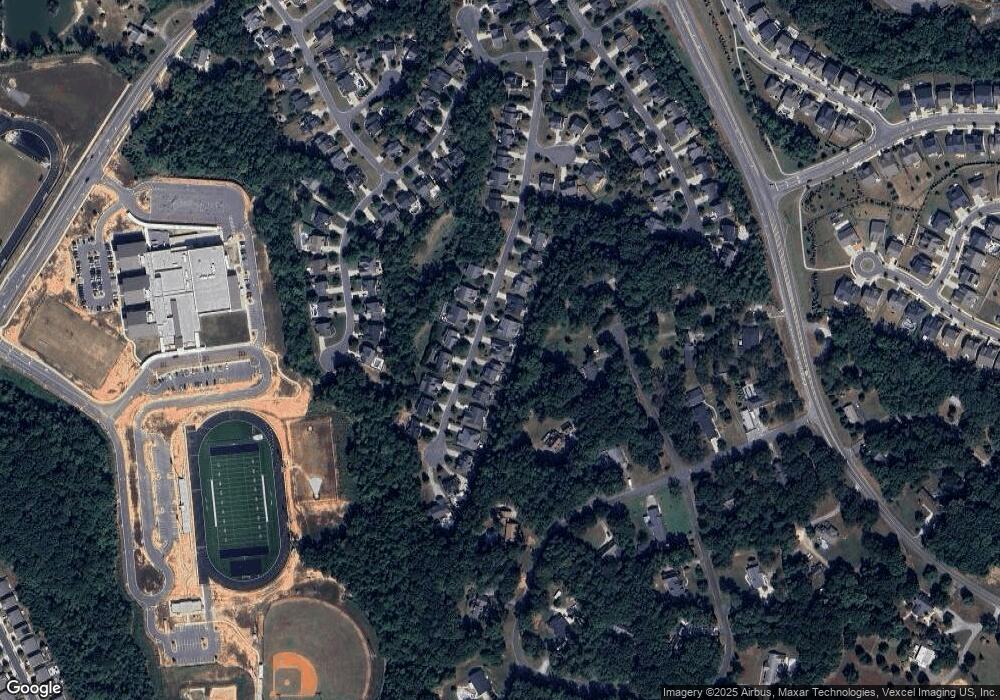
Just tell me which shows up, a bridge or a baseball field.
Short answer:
baseball field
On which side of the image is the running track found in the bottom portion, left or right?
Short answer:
left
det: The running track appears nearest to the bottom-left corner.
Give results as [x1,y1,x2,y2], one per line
[187,408,291,592]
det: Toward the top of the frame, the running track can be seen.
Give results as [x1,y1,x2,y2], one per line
[0,118,62,277]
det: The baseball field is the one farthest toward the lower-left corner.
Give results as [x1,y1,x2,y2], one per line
[156,665,256,700]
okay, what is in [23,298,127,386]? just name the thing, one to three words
sports field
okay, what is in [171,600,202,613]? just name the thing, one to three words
building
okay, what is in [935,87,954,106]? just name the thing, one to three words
house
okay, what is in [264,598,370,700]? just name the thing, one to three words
baseball field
